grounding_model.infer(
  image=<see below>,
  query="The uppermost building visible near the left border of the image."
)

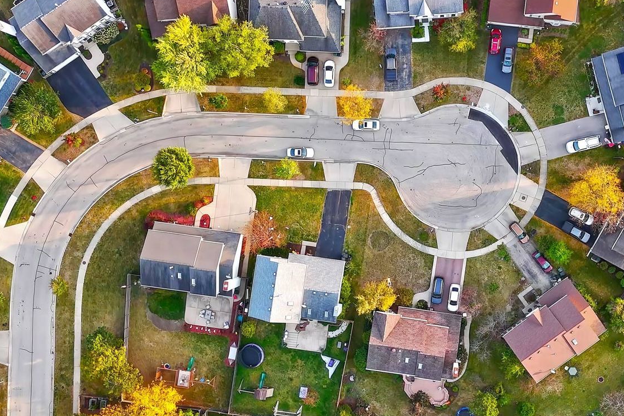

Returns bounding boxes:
[0,0,116,74]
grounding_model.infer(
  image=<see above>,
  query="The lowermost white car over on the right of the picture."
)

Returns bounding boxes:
[448,284,460,312]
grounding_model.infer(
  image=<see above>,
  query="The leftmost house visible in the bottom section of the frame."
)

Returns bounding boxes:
[135,222,246,298]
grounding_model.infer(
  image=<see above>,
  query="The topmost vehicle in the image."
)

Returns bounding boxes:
[489,28,501,55]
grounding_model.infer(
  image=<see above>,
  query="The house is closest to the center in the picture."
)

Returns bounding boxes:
[250,253,347,324]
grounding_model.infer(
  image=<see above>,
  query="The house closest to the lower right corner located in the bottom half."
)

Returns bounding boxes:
[502,277,606,383]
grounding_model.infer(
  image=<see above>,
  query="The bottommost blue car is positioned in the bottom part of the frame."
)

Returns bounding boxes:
[431,277,444,305]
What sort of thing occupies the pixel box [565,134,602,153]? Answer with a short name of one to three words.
vehicle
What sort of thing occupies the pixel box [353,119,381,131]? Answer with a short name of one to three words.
vehicle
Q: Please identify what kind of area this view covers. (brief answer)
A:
residential area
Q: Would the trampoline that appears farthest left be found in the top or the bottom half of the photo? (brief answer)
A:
bottom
